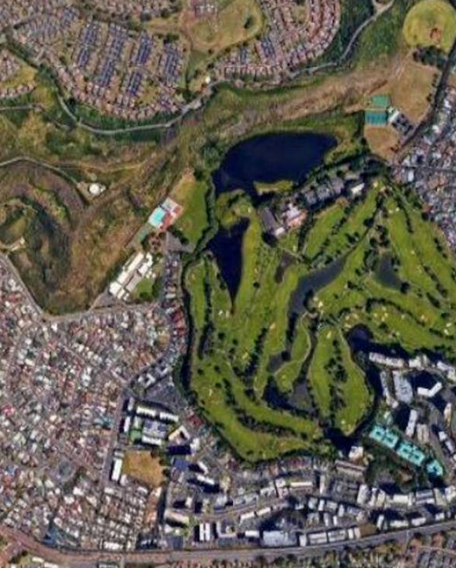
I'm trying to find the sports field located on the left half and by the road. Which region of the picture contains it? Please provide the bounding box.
[122,449,163,486]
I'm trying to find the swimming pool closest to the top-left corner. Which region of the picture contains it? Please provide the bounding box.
[148,207,166,225]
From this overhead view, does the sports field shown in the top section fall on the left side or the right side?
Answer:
right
